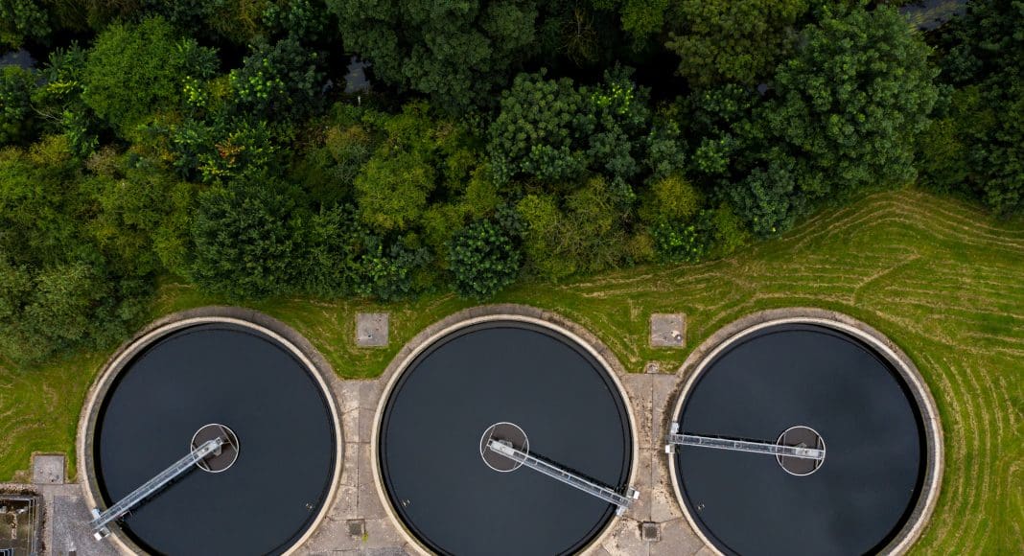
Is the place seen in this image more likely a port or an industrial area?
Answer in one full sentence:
This image shows an industrial area.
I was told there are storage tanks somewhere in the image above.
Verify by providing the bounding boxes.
[669,318,940,556]
[79,319,343,556]
[372,317,639,556]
